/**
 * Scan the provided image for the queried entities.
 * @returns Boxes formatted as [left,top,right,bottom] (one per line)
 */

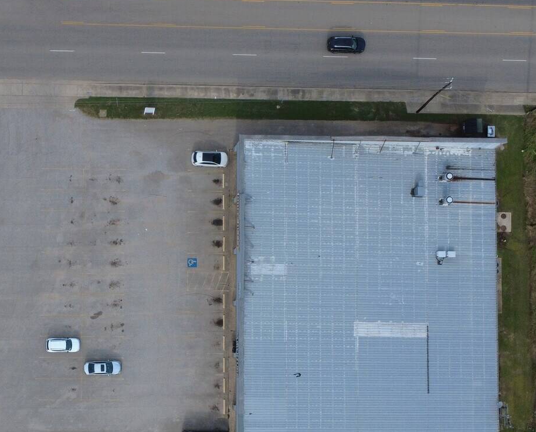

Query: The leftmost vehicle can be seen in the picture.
[46,337,80,353]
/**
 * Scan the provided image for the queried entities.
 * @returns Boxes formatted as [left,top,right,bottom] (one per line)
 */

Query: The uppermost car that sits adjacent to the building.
[191,150,226,168]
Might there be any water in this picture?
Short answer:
No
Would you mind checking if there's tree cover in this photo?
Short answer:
No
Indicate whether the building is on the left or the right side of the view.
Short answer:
right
